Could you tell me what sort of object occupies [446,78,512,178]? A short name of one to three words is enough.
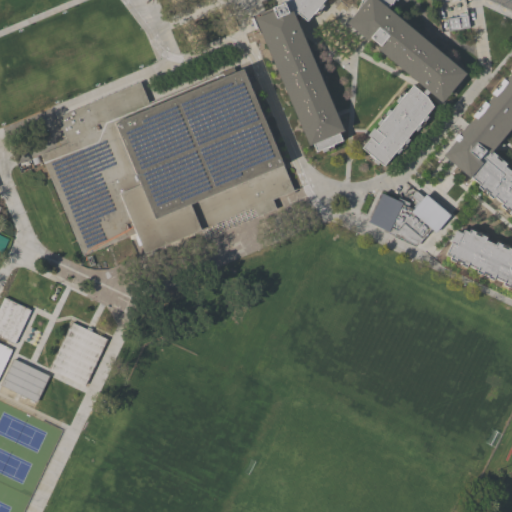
building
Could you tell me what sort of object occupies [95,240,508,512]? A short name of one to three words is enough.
sports field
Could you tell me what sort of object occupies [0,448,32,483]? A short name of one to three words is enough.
tennis court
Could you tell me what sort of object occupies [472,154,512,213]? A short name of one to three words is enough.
building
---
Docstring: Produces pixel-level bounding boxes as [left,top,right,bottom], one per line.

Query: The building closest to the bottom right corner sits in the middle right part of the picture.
[447,230,512,288]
